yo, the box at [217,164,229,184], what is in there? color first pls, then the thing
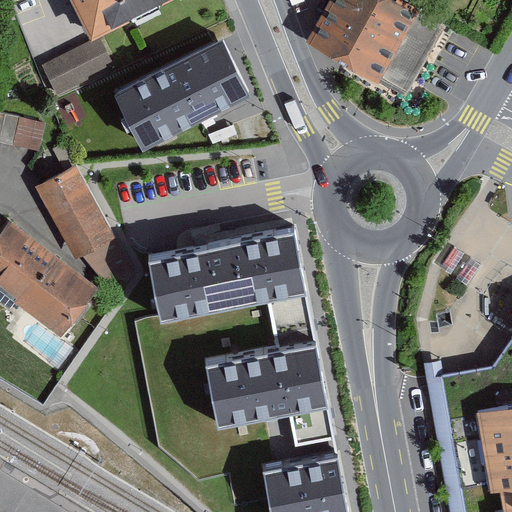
gray vehicle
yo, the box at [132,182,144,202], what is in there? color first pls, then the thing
blue vehicle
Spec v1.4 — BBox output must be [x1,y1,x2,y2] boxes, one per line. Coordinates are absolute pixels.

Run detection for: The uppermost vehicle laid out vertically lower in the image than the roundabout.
[411,388,423,412]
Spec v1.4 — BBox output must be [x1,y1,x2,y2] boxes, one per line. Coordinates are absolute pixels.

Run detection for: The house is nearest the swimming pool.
[0,222,96,336]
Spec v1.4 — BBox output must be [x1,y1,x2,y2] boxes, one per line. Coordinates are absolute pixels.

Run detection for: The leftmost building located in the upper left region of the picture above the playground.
[42,38,112,93]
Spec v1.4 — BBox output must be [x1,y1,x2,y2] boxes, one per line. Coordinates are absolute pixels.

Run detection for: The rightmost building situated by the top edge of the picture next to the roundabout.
[306,0,444,92]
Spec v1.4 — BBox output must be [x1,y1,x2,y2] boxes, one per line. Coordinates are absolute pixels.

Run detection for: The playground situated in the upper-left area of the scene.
[62,92,86,126]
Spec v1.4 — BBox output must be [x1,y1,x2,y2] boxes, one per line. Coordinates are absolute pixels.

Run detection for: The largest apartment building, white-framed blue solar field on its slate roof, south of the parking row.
[149,228,306,324]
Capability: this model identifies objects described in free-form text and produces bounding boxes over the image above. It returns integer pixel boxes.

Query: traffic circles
[312,136,441,264]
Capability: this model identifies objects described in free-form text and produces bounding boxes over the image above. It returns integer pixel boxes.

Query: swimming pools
[7,306,76,370]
